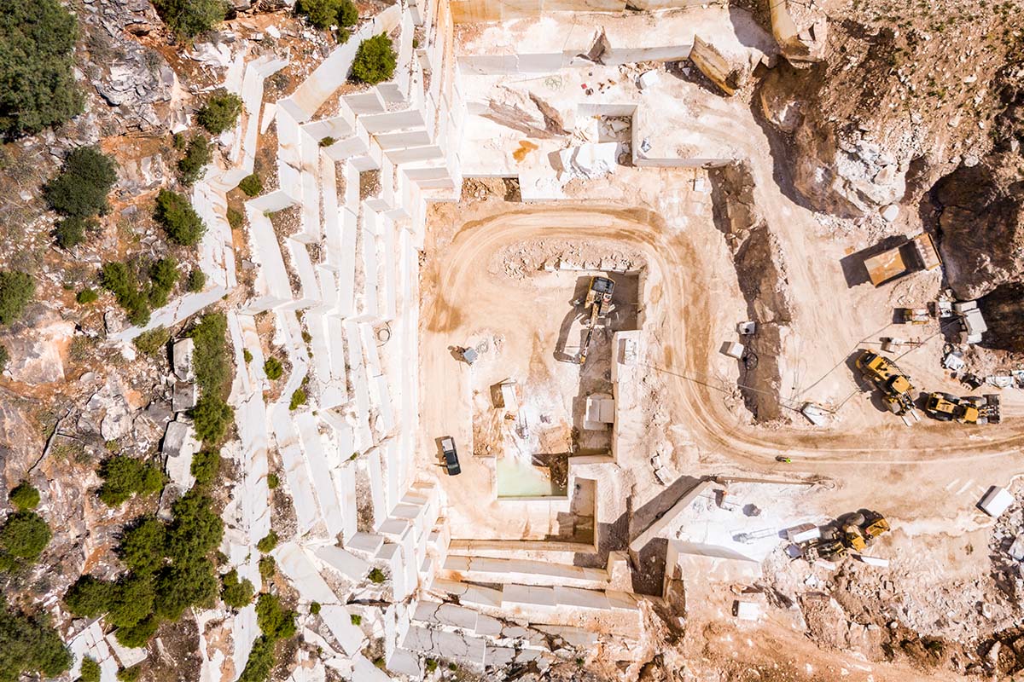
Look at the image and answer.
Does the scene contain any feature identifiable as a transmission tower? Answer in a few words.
No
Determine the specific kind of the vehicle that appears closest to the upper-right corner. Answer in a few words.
truck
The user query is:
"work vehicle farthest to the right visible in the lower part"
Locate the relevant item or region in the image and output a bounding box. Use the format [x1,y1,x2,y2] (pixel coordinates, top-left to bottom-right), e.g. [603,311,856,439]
[926,394,999,429]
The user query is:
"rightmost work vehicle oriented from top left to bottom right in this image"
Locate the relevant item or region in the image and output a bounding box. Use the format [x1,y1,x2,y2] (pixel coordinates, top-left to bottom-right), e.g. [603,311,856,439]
[862,357,918,426]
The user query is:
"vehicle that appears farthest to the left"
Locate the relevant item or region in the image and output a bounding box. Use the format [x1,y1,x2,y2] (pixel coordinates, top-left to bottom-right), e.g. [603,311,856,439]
[438,437,460,478]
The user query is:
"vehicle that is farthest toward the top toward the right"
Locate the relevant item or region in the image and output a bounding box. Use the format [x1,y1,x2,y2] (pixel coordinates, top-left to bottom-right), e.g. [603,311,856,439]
[857,234,939,287]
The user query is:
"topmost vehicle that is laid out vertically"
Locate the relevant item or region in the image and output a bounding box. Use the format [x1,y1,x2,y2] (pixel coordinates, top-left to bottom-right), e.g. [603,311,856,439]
[582,273,617,358]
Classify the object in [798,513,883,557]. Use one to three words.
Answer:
work vehicle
